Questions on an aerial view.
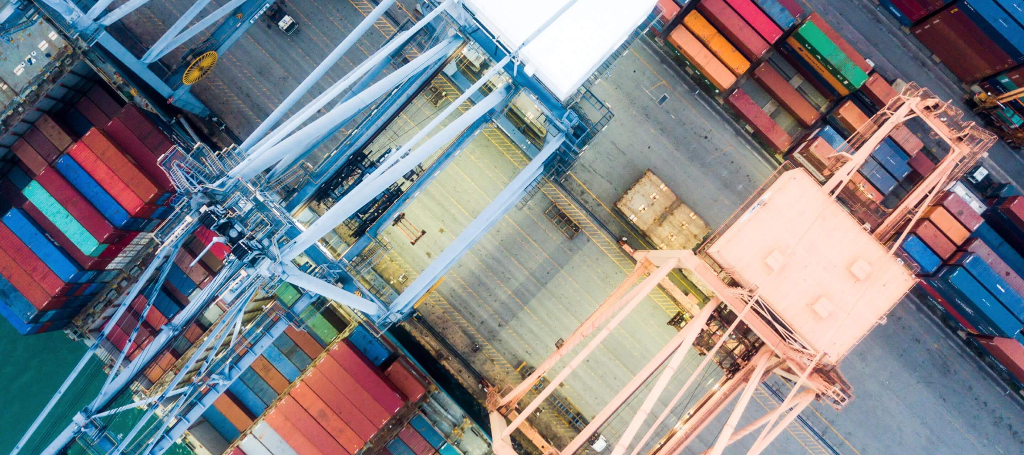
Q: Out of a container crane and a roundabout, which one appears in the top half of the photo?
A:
container crane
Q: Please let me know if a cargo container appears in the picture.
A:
Yes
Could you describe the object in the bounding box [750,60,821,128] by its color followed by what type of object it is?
red shipping container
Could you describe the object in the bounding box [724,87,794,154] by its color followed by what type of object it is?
red shipping container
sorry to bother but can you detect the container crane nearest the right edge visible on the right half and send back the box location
[476,69,1003,455]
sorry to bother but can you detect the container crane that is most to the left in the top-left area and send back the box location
[0,0,292,128]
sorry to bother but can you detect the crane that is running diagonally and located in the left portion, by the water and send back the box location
[12,0,675,455]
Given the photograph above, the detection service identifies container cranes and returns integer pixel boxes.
[12,0,675,455]
[476,69,1003,455]
[0,0,292,128]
